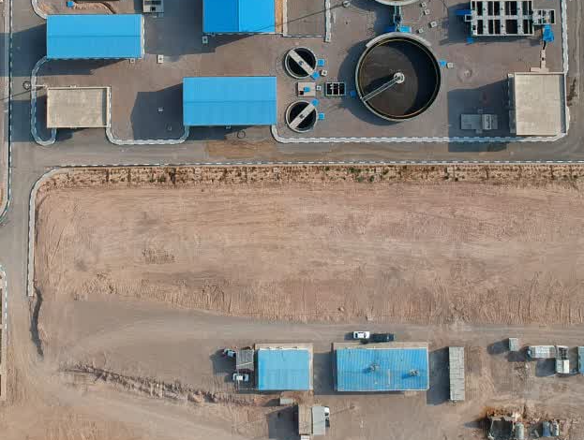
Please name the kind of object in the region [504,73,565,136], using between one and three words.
building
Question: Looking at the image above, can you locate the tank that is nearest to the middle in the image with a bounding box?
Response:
[284,99,317,132]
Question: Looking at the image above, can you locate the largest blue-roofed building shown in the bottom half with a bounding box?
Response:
[332,342,428,391]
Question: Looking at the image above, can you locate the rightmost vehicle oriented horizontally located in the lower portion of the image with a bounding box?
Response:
[527,344,557,357]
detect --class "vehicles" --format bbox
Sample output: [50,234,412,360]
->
[222,346,236,357]
[232,372,249,380]
[352,330,370,339]
[527,344,557,357]
[554,343,568,373]
[371,332,392,342]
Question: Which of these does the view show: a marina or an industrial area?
industrial area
